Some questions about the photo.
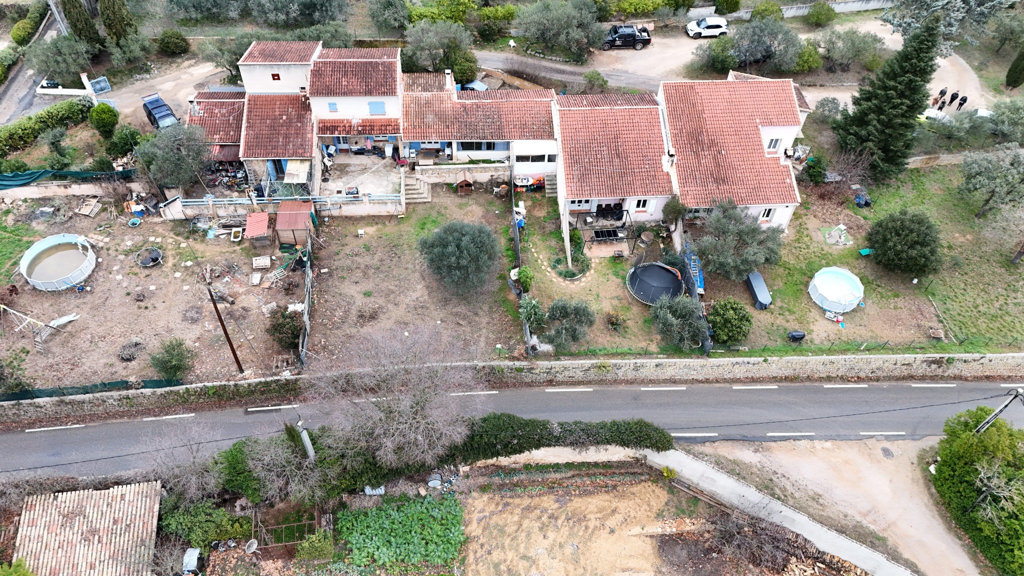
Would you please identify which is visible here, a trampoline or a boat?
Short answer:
trampoline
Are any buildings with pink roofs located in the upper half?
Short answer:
Yes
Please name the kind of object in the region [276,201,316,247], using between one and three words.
shed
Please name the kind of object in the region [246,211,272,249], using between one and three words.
shed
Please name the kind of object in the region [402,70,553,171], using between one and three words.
house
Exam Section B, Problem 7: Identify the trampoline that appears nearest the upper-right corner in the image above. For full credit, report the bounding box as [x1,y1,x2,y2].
[625,260,686,306]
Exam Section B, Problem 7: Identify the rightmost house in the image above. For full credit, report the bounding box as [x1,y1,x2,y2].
[650,69,812,237]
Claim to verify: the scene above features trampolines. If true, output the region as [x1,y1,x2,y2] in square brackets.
[132,247,162,268]
[625,260,686,306]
